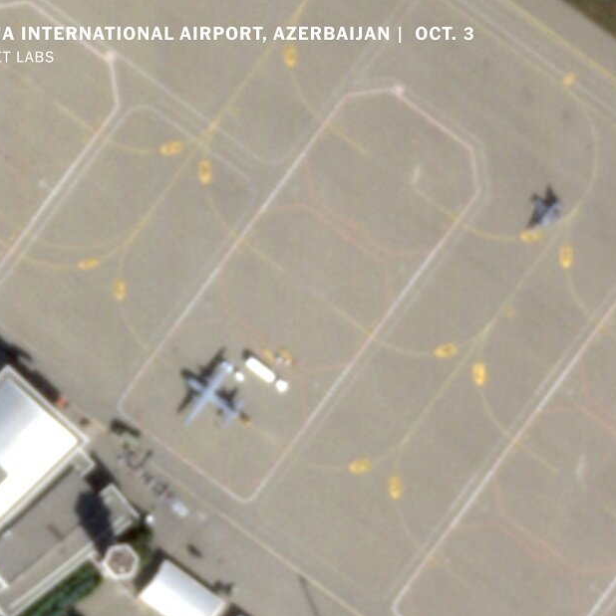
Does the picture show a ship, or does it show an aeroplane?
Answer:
aeroplane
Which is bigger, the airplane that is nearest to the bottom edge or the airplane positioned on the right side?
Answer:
the airplane that is nearest to the bottom edge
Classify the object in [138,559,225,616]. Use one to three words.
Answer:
hangar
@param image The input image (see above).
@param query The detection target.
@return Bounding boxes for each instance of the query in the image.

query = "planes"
[185,364,243,428]
[530,195,568,231]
